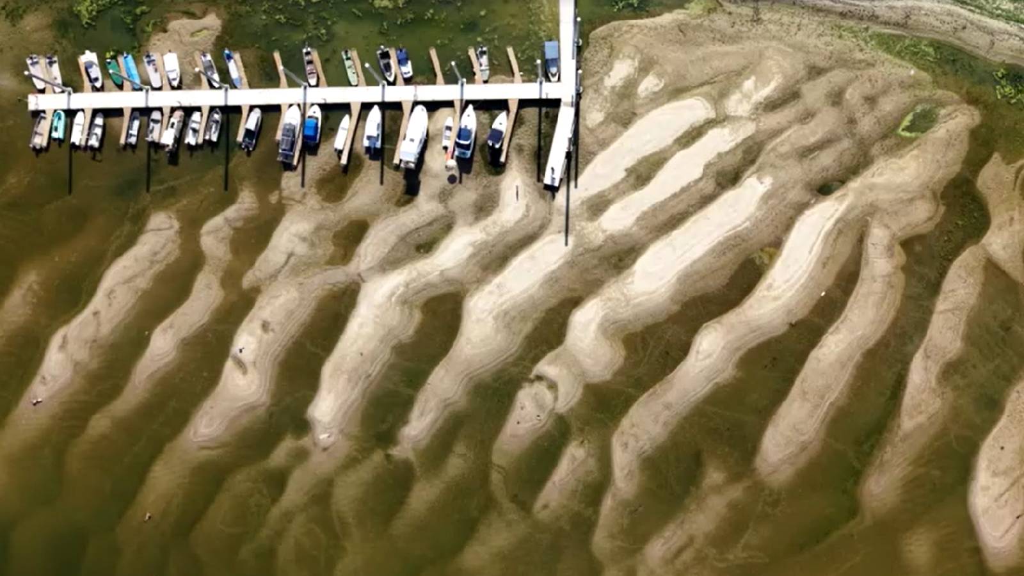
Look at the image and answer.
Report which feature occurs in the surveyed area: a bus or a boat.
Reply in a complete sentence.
It is a boat that can be seen here.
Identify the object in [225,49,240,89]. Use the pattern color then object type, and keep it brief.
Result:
white boat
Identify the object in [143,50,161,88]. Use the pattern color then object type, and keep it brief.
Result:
white boat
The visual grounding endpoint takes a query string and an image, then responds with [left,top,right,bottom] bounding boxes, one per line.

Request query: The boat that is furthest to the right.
[545,40,560,82]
